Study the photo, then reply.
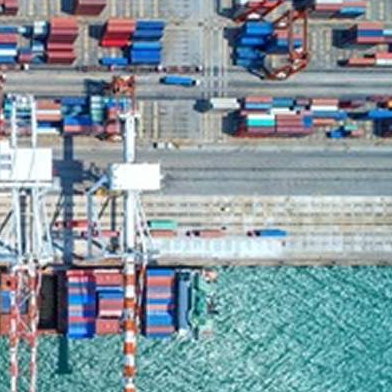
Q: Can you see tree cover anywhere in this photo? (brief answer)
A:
No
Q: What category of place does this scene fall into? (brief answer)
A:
port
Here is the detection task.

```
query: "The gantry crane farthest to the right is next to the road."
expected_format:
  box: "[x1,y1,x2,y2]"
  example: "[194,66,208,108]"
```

[265,4,313,79]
